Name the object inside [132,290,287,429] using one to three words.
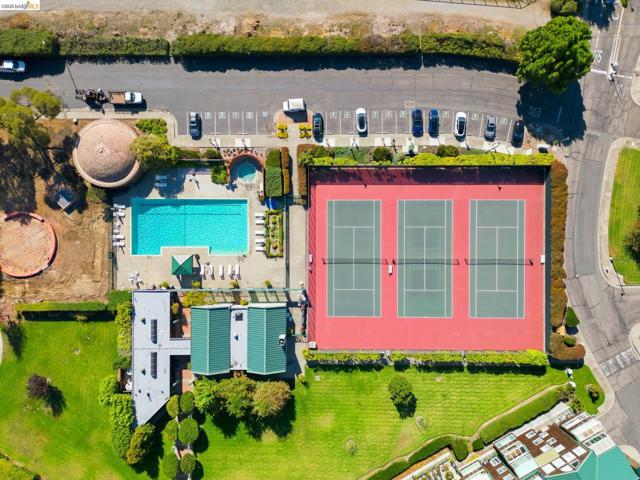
building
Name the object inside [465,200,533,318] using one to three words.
tennis court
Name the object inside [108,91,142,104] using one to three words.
vehicle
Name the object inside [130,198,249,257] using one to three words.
swimming pool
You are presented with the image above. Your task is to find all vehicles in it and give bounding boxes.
[0,59,24,71]
[356,108,367,132]
[485,115,497,139]
[511,119,526,145]
[108,91,142,104]
[312,112,324,136]
[283,98,306,112]
[188,111,200,136]
[428,110,440,134]
[412,109,424,134]
[454,112,466,136]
